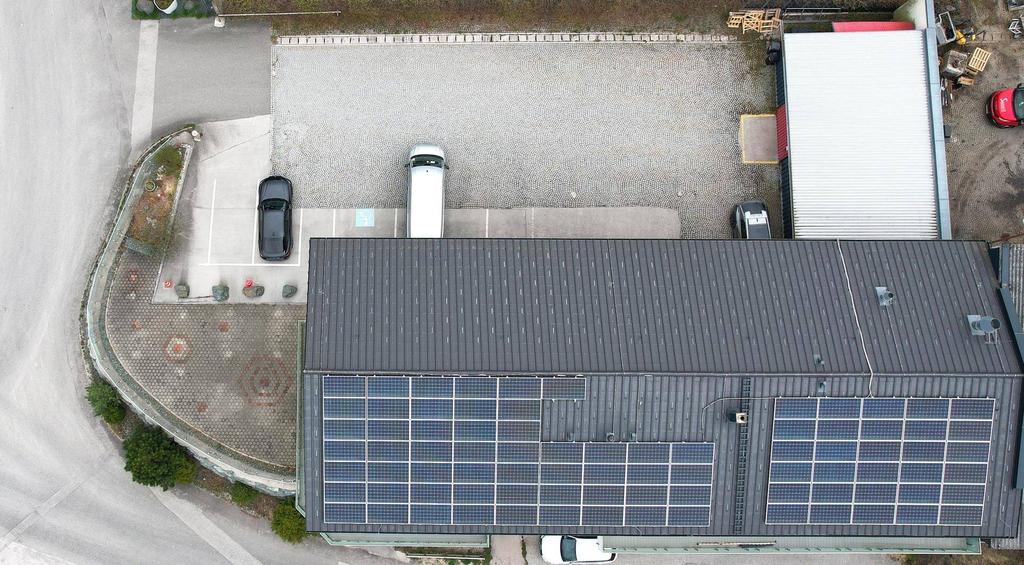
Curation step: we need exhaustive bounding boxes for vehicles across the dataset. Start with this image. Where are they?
[405,144,449,237]
[256,176,295,262]
[538,537,617,565]
[981,87,1024,128]
[730,200,771,238]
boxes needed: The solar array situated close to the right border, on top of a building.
[766,395,995,527]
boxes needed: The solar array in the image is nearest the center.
[323,374,713,526]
